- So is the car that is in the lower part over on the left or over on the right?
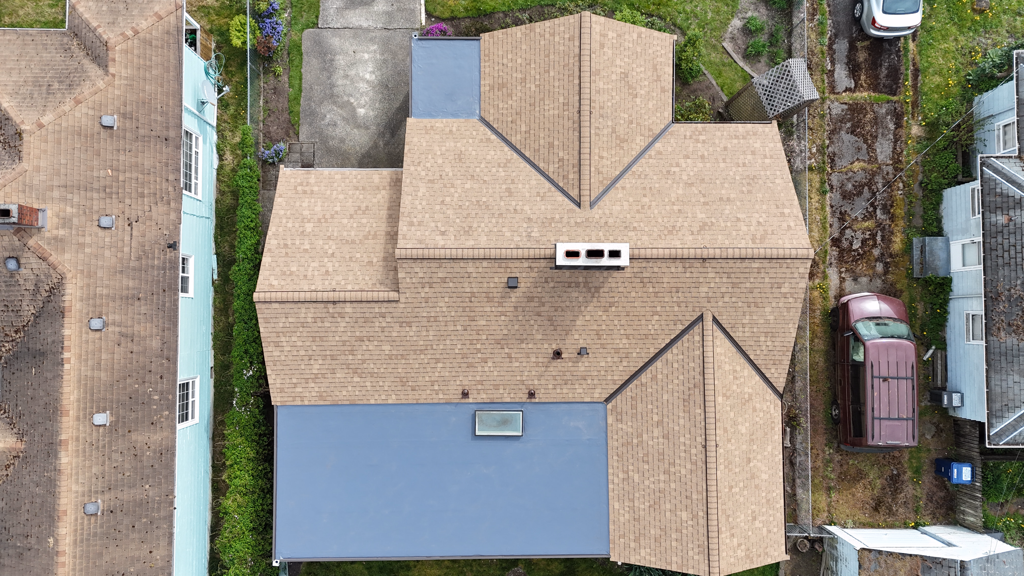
right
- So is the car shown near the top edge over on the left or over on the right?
right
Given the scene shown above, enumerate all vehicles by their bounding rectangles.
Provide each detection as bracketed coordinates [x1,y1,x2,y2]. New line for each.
[853,0,927,40]
[830,292,920,454]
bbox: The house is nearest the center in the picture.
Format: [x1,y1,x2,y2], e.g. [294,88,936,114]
[250,9,817,576]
